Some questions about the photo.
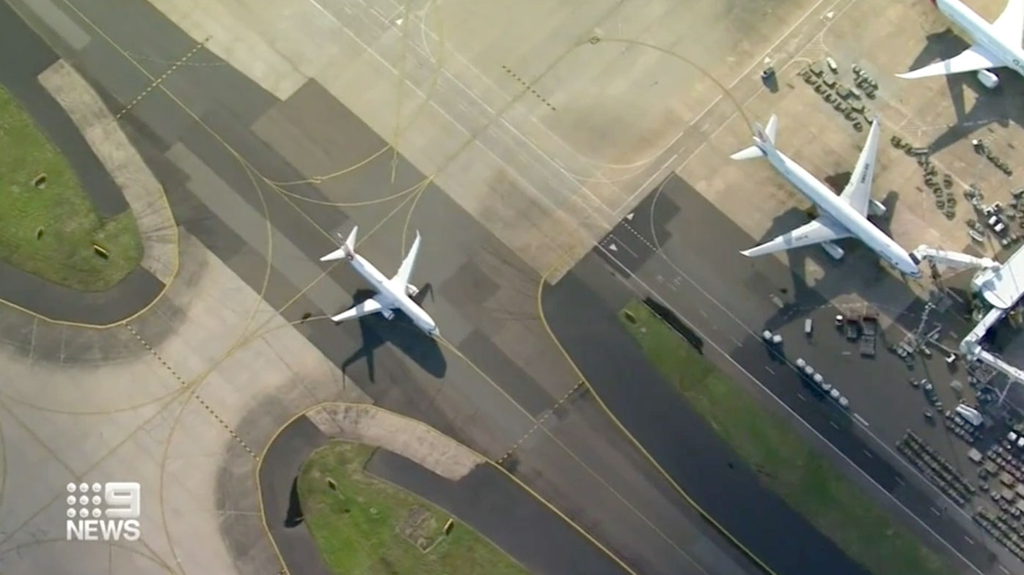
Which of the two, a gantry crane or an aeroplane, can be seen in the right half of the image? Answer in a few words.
aeroplane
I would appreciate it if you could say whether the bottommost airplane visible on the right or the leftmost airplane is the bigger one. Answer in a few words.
the bottommost airplane visible on the right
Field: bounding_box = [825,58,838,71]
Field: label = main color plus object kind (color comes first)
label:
white vehicle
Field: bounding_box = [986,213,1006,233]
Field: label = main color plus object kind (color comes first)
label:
white vehicle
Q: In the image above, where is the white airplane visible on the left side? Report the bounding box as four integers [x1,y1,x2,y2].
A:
[320,226,439,337]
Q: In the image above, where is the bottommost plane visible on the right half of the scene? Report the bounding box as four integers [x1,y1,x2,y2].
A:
[731,115,921,277]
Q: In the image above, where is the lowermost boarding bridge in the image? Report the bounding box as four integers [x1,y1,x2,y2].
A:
[959,304,1024,391]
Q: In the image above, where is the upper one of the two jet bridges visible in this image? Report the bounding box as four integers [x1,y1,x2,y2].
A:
[907,244,1001,294]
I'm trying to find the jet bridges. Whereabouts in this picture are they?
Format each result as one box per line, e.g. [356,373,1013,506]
[959,304,1024,391]
[907,244,1001,294]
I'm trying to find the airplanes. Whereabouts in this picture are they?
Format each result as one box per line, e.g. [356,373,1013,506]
[896,0,1024,90]
[731,115,921,277]
[320,226,439,337]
